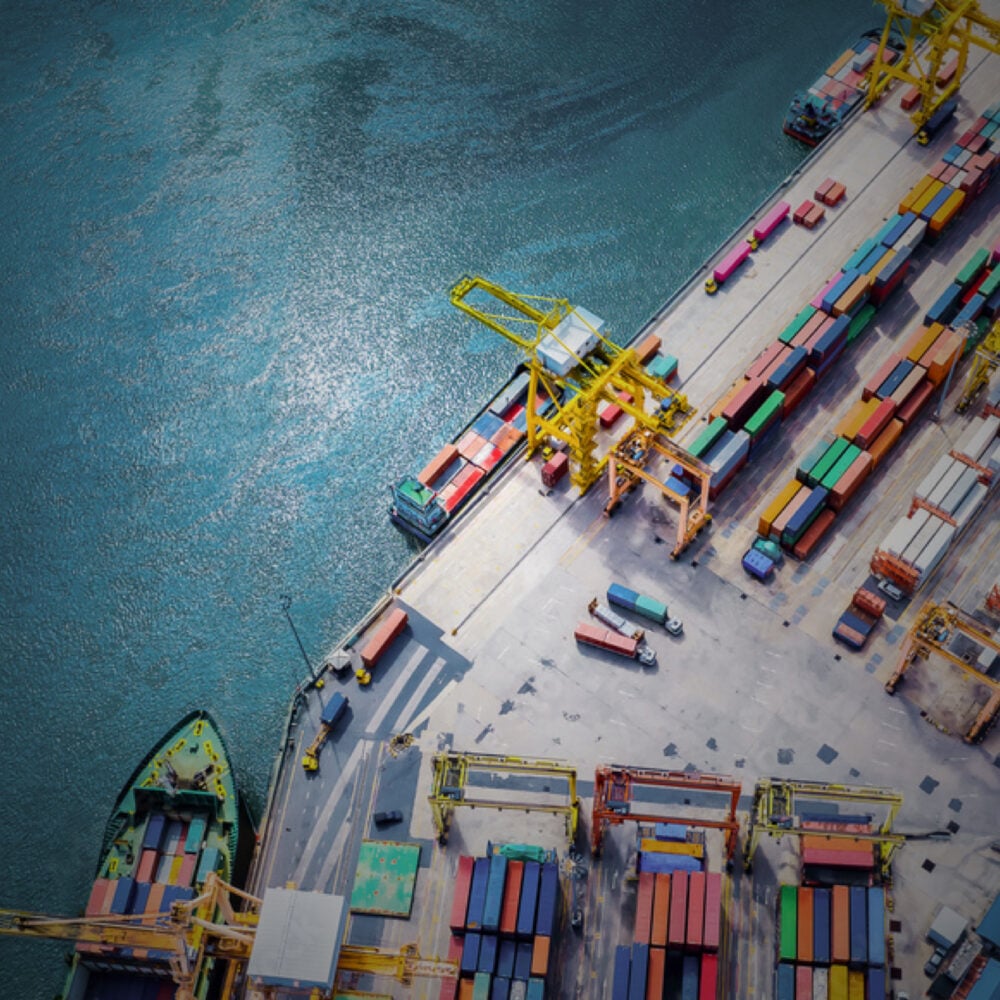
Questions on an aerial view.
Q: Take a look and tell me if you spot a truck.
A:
Yes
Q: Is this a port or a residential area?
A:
port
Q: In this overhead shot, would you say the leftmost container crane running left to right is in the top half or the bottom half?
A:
bottom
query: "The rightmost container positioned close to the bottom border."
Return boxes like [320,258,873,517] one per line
[946,941,979,983]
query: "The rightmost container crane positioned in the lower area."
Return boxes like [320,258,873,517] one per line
[878,600,1000,751]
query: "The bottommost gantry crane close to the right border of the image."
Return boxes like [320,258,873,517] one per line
[742,771,960,892]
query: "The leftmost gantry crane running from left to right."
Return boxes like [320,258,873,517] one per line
[0,872,462,1000]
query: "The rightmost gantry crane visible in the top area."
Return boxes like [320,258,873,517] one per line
[954,327,1000,414]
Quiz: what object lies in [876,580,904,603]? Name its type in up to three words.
vehicle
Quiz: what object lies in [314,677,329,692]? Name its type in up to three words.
work vehicle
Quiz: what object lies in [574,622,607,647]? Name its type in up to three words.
shipping container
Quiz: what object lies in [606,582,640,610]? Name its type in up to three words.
shipping container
